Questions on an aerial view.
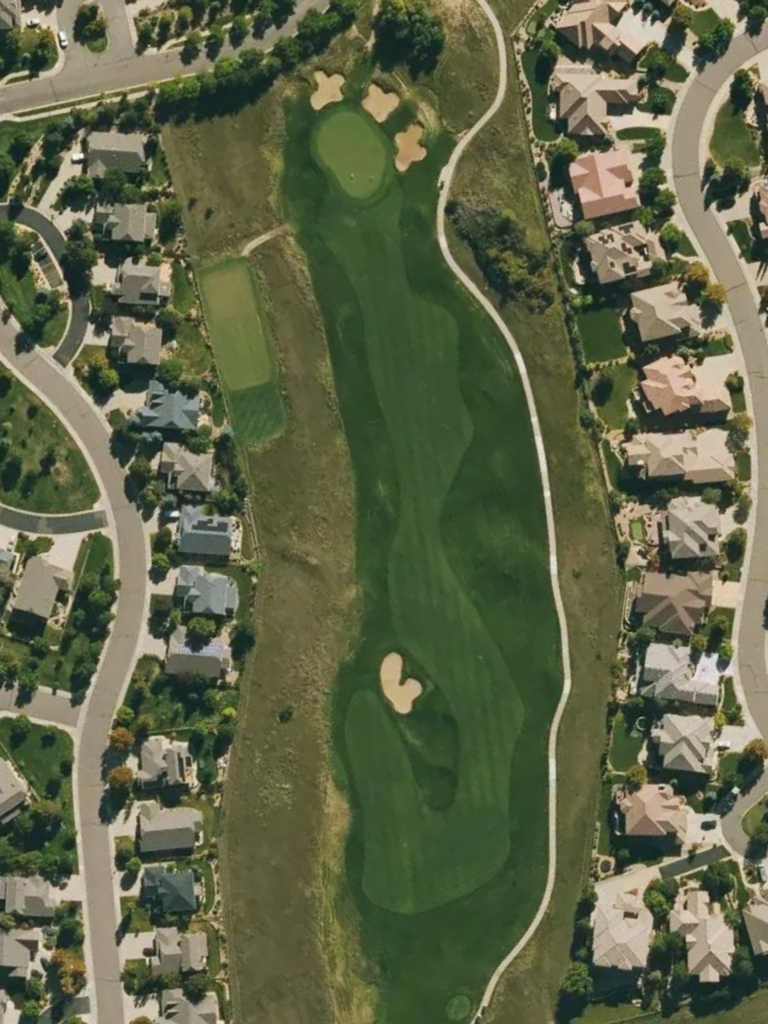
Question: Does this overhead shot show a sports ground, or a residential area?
residential area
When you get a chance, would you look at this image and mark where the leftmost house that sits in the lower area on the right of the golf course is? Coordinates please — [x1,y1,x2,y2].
[592,875,655,970]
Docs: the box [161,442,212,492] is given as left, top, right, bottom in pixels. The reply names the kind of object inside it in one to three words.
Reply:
house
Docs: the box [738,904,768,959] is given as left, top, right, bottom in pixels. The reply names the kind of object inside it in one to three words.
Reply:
house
